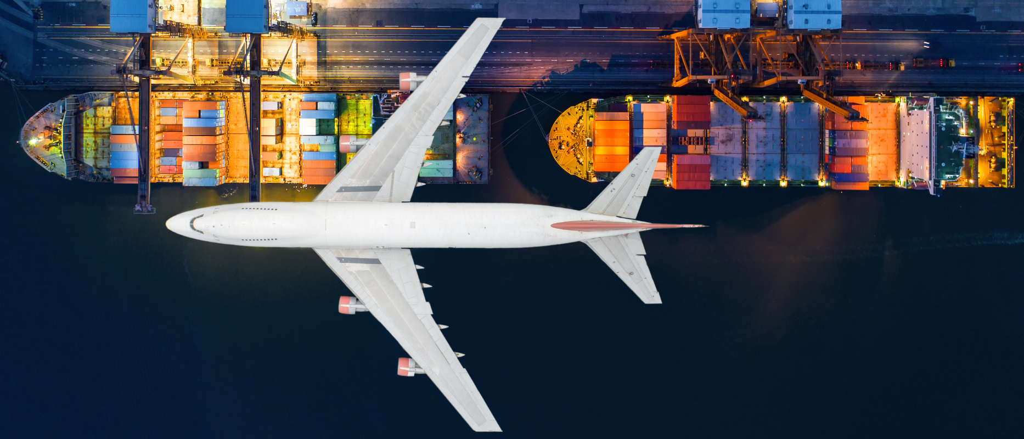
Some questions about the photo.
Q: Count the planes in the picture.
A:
1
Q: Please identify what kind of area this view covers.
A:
port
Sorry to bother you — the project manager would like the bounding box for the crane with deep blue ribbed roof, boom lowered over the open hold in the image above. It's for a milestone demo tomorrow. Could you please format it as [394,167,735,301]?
[108,0,233,212]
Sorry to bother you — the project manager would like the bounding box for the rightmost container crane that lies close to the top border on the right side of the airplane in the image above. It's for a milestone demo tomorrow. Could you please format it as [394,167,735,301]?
[743,0,879,115]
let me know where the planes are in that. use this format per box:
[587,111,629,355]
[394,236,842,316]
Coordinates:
[166,18,702,431]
